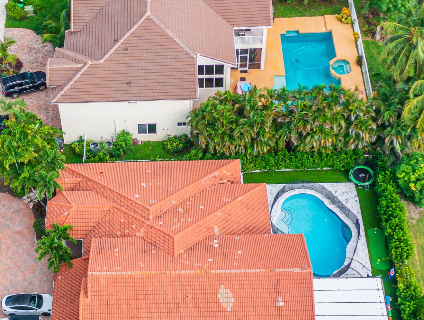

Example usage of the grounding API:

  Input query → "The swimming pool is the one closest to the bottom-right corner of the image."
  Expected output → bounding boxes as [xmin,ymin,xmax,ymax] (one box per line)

[271,189,357,277]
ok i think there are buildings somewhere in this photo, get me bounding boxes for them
[45,159,317,320]
[46,0,275,141]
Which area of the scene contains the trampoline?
right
